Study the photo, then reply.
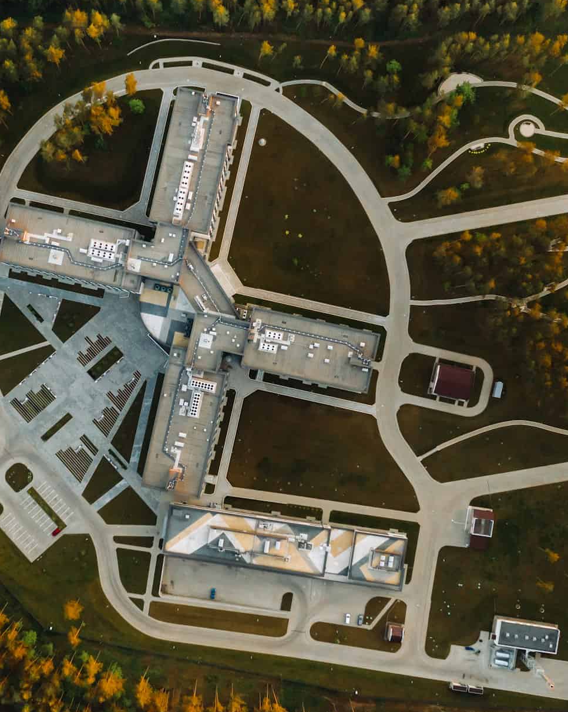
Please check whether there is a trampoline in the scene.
No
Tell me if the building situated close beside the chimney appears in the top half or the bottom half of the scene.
bottom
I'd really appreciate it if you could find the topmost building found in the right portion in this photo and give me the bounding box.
[428,362,475,402]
